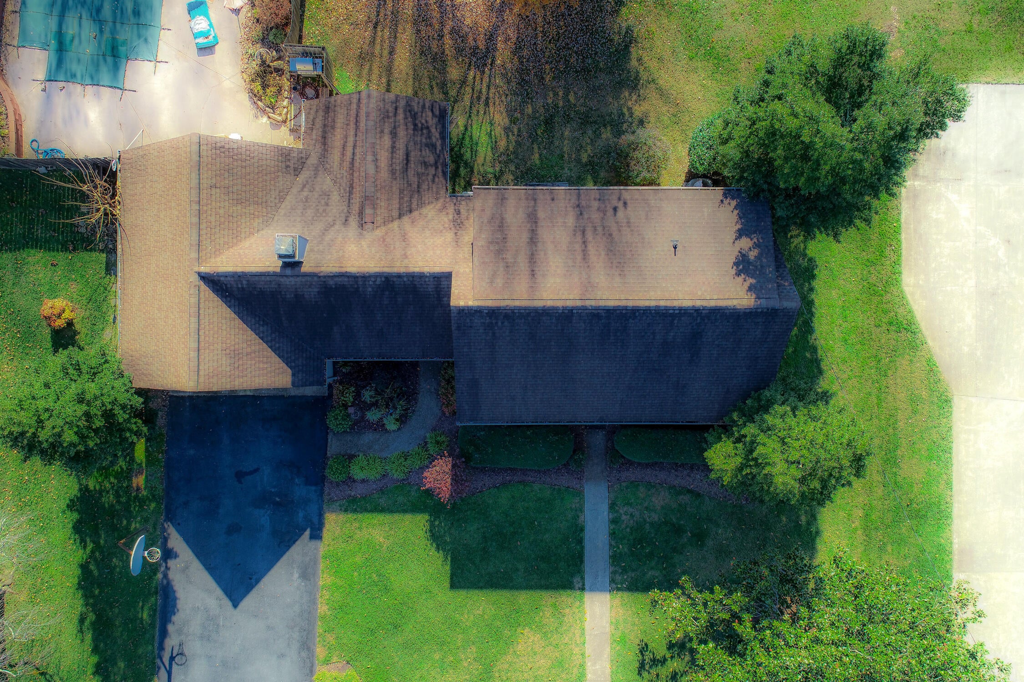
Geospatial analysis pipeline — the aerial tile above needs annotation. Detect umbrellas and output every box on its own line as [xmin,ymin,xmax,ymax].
[226,0,246,34]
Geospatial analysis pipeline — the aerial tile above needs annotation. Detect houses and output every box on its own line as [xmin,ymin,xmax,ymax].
[116,88,801,428]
